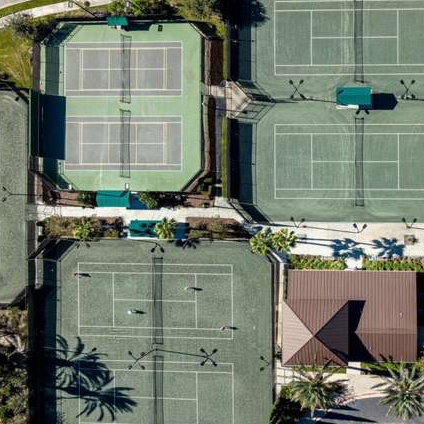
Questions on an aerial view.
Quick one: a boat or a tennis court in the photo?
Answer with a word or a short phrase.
tennis court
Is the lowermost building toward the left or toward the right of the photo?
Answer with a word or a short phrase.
right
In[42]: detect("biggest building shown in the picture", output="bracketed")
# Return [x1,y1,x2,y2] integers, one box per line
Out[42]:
[283,270,418,366]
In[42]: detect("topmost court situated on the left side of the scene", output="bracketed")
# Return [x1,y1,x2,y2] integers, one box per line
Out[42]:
[41,22,203,106]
